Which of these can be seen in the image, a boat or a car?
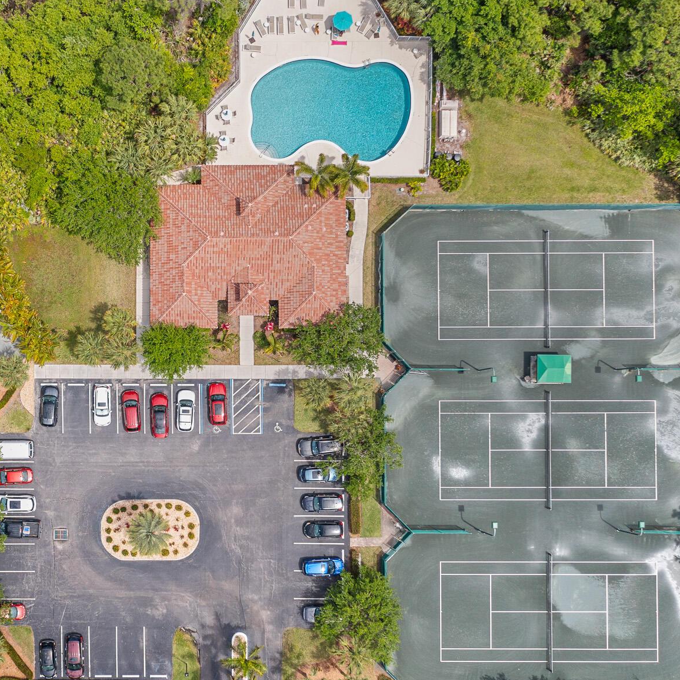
car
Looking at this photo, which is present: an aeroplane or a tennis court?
tennis court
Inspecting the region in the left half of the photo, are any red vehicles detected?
Yes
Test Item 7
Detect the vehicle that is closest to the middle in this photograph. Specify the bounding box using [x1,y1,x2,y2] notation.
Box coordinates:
[296,437,342,458]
